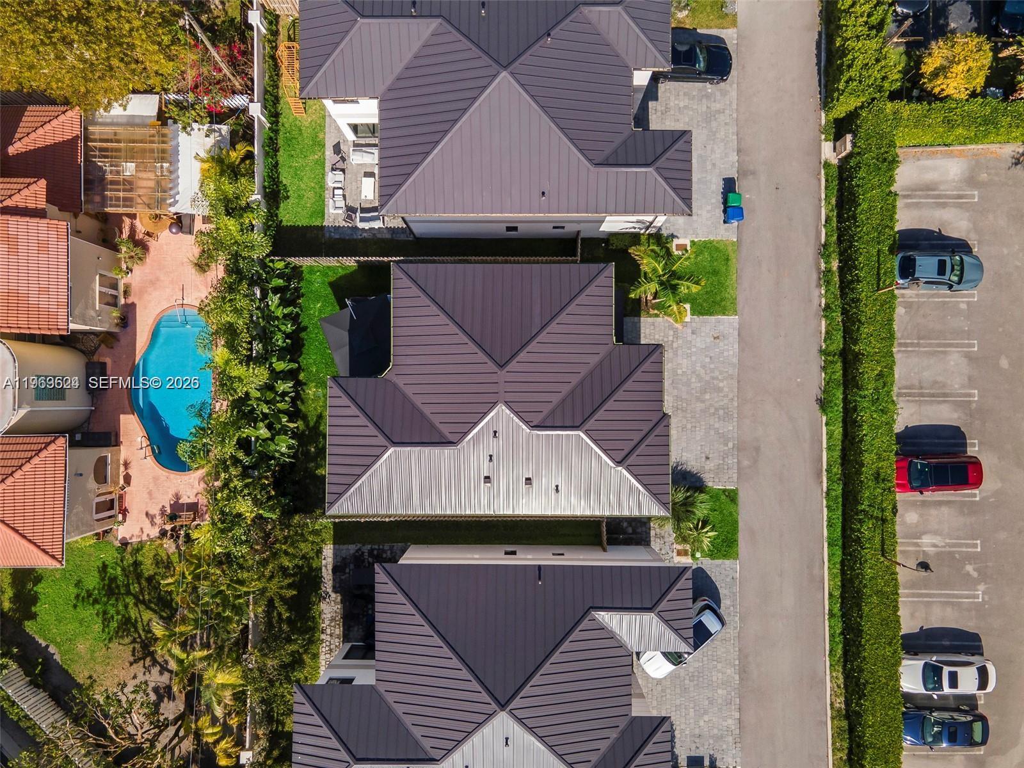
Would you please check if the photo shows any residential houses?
Yes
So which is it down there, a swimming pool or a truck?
swimming pool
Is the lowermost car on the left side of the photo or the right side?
right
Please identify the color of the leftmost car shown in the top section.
black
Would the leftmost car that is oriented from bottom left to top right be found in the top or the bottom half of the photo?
bottom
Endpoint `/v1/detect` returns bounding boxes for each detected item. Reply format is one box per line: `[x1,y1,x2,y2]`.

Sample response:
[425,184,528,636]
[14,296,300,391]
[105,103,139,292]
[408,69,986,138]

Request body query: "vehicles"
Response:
[896,452,981,497]
[648,40,731,87]
[989,0,1024,36]
[895,249,982,293]
[642,597,720,679]
[900,704,988,752]
[899,651,993,698]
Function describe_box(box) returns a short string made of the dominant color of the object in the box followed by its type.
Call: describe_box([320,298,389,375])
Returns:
black umbrella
